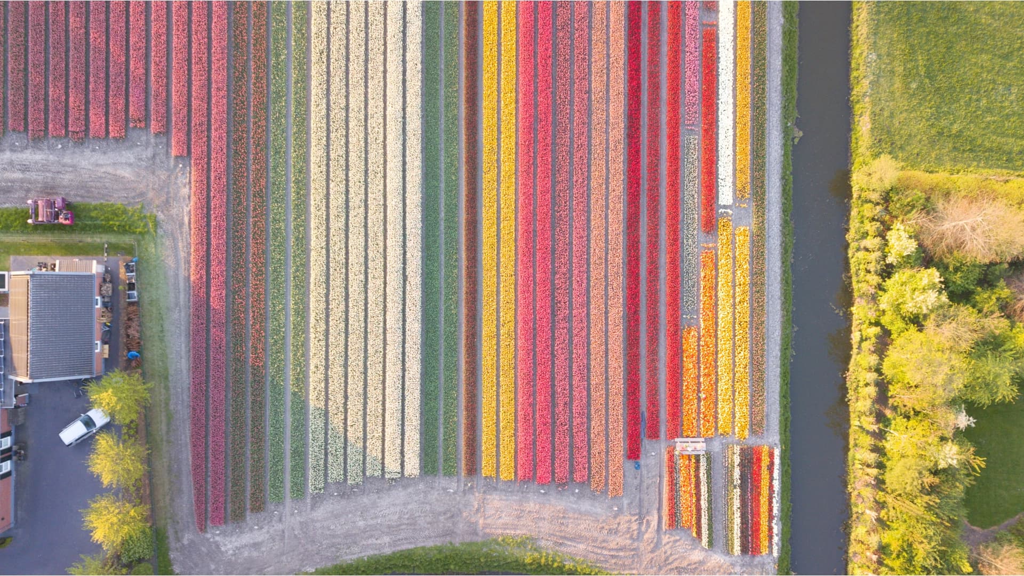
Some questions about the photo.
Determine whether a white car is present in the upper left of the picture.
No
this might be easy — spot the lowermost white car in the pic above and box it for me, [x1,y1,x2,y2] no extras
[57,407,115,449]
